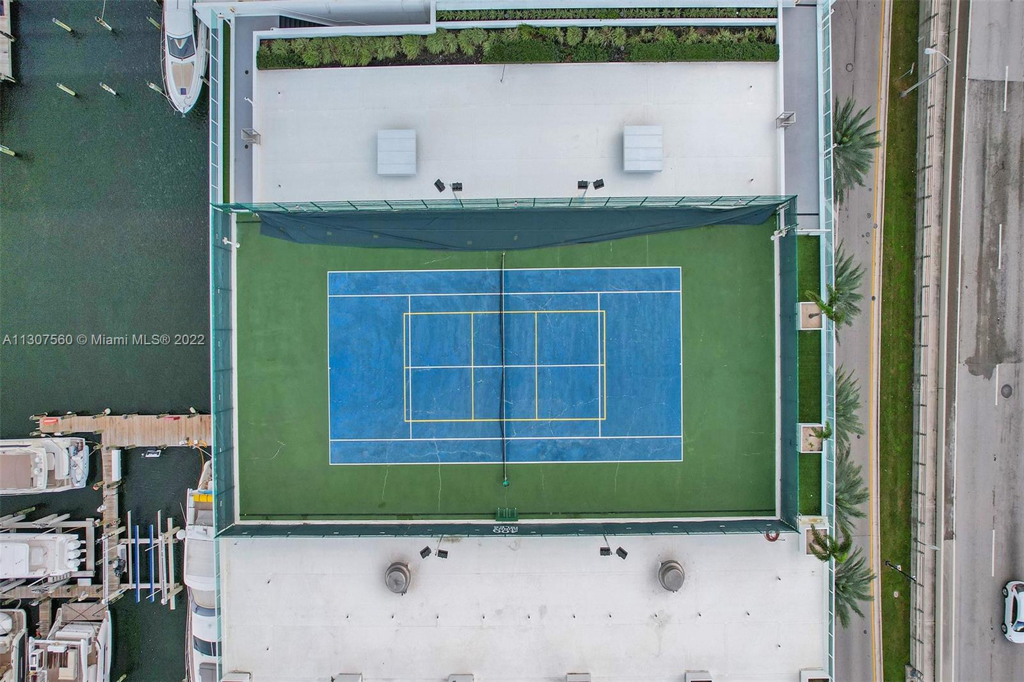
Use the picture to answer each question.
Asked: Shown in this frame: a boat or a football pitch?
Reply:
boat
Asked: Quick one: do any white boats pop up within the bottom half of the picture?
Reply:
Yes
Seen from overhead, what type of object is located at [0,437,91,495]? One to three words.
boat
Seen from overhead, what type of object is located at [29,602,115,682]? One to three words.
boat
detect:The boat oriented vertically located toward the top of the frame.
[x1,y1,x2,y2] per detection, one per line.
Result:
[160,0,209,118]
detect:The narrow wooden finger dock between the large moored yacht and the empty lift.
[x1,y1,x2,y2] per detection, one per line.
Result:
[102,446,121,596]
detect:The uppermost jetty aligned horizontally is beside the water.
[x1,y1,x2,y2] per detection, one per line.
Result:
[40,414,212,446]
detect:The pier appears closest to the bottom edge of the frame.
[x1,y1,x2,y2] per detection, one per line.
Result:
[39,598,53,638]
